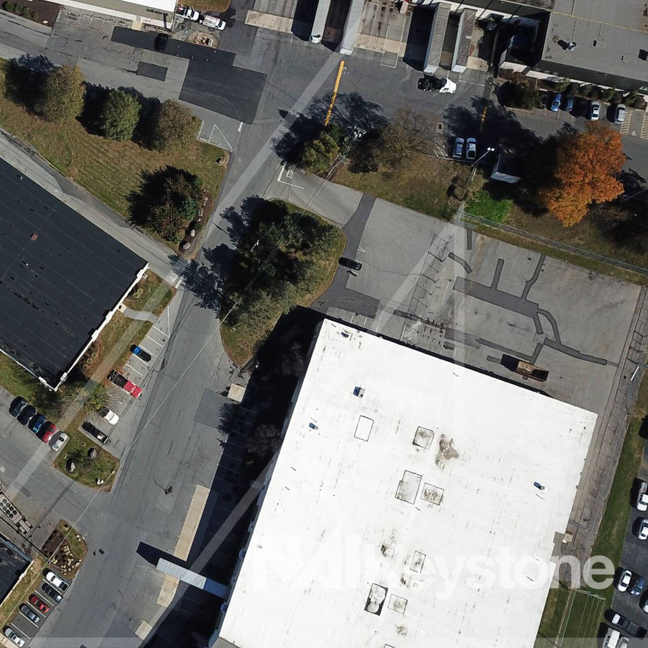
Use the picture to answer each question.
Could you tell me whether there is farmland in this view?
No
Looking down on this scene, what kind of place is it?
industrial area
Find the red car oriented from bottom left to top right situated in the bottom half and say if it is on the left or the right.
left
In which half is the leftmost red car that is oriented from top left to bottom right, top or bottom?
bottom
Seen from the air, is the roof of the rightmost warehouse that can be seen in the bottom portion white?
Yes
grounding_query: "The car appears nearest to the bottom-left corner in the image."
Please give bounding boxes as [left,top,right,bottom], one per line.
[4,625,25,647]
